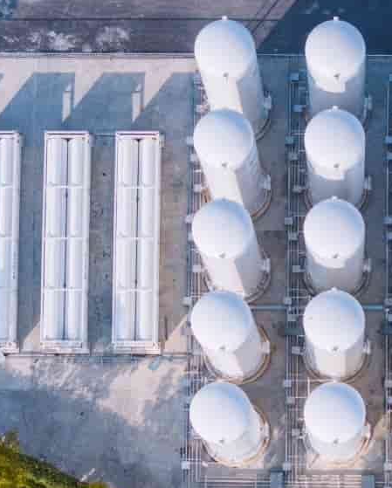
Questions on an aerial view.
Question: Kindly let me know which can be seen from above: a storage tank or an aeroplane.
storage tank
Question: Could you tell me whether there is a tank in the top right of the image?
Yes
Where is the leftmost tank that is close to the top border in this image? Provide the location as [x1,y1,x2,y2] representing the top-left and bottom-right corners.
[194,16,272,136]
